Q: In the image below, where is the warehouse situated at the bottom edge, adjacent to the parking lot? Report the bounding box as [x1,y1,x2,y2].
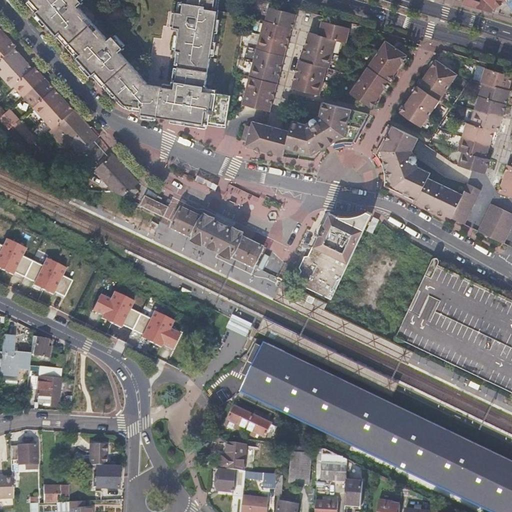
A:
[238,342,512,512]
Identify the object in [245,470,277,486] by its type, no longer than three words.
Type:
shed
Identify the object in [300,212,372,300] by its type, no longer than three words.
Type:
building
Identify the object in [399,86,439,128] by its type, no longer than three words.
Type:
house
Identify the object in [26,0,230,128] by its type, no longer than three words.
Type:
building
